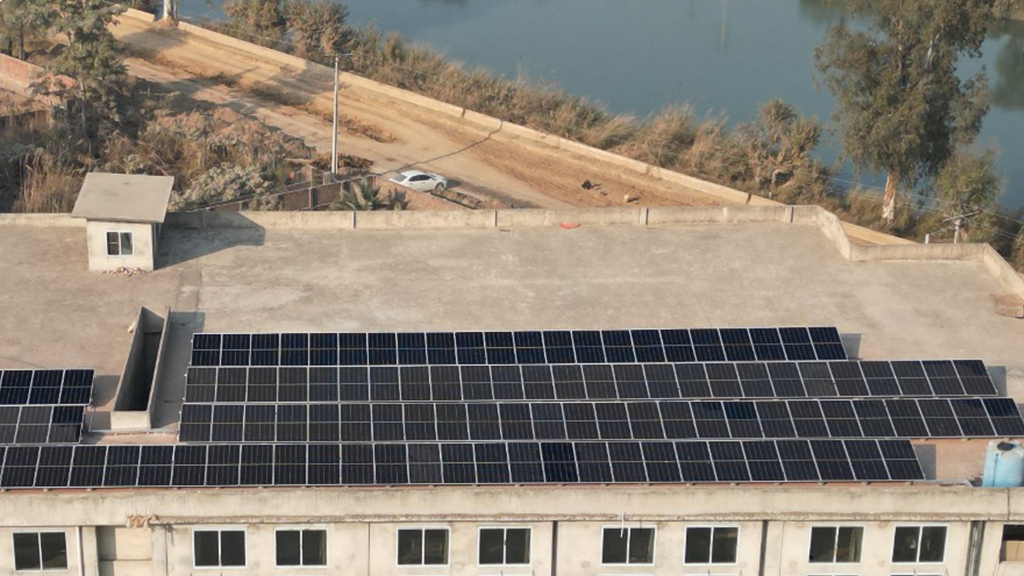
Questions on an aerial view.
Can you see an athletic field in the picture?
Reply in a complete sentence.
No, I find no athletic field anywhere in the image.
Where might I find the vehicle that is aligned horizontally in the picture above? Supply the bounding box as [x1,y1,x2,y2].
[391,171,449,190]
